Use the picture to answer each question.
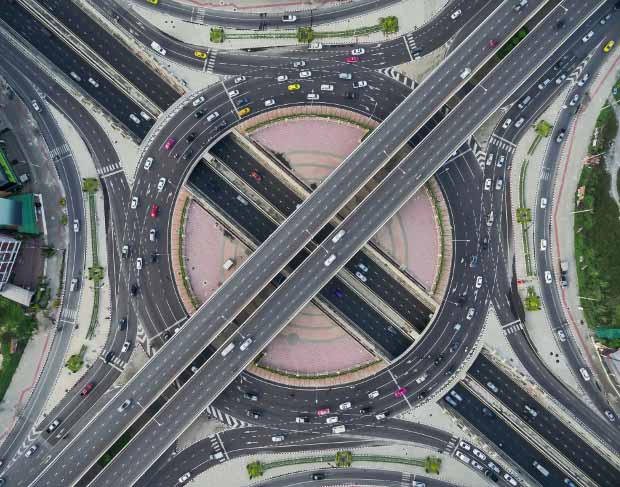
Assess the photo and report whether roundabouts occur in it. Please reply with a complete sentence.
Yes, a roundabout can be made out from above.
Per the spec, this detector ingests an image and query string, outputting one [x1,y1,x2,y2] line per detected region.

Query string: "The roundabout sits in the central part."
[122,56,502,436]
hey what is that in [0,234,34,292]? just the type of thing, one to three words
building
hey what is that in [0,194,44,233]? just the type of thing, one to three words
building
